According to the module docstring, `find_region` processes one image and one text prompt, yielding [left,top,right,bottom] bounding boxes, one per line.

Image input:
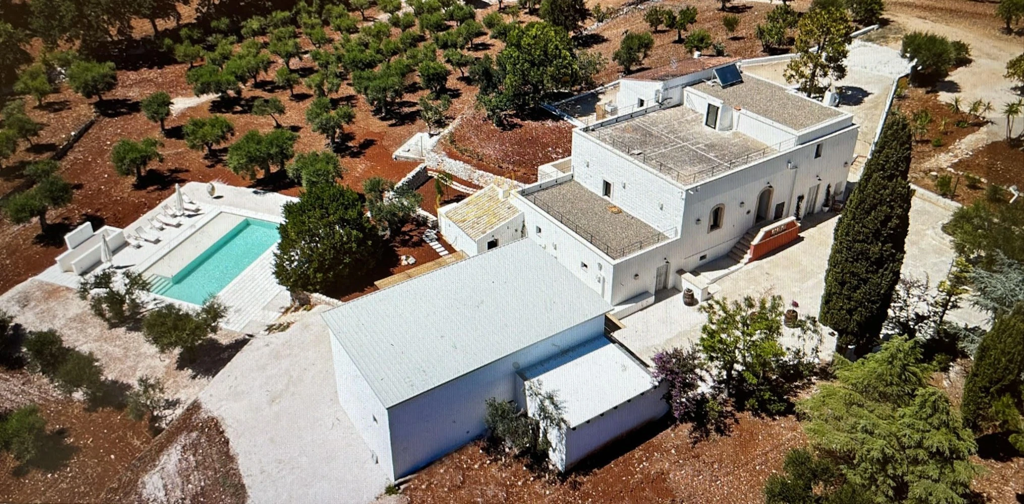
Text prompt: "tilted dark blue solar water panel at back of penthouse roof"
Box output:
[706,62,742,89]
